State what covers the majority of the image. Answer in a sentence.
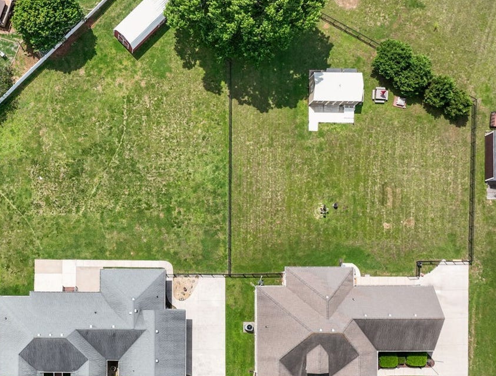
Most of the picture is covered by grass.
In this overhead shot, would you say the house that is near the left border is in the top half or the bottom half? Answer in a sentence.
Seen from above, the house that is near the left border lies in the bottom half of the view.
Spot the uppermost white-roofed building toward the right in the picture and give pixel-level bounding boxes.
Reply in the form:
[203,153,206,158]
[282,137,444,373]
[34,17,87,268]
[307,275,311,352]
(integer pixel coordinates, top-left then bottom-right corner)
[308,73,363,117]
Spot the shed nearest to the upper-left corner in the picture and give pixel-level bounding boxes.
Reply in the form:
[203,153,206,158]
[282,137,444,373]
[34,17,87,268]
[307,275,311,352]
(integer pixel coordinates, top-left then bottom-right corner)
[114,0,178,53]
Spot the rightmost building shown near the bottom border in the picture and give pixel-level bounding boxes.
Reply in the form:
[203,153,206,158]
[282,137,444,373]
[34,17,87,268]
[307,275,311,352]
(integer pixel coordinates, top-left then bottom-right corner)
[255,267,444,376]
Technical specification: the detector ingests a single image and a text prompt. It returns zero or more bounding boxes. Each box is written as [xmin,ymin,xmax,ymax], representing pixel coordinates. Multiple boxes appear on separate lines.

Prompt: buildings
[0,268,187,376]
[255,267,444,376]
[114,0,178,53]
[486,130,496,180]
[308,73,363,117]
